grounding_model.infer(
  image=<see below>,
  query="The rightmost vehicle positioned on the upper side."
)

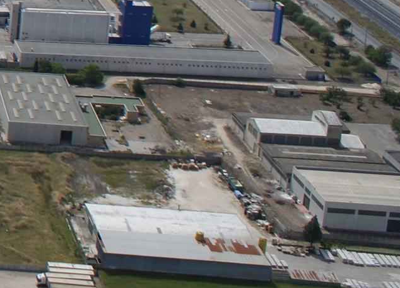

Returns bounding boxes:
[150,21,170,41]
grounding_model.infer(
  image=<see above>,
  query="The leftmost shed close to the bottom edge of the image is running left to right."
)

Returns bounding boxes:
[79,205,271,279]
